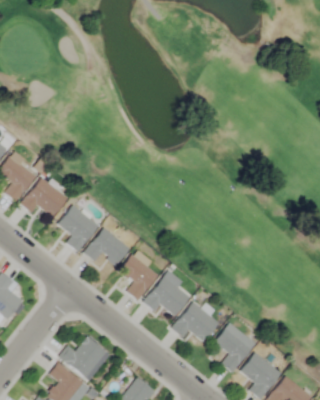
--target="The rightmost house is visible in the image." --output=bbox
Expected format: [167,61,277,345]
[265,376,311,400]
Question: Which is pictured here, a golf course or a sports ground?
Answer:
golf course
